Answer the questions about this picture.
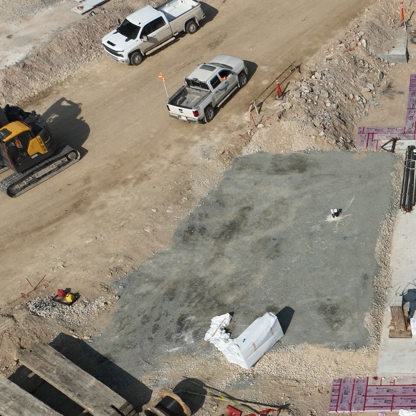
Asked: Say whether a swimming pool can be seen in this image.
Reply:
No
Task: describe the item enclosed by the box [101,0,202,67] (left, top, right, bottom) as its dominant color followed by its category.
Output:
white truck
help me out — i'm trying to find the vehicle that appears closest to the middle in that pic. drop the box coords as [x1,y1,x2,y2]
[150,56,251,124]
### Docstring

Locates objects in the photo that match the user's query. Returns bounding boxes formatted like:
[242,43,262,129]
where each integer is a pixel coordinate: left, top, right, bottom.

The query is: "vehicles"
[0,121,79,197]
[150,56,251,124]
[101,0,202,67]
